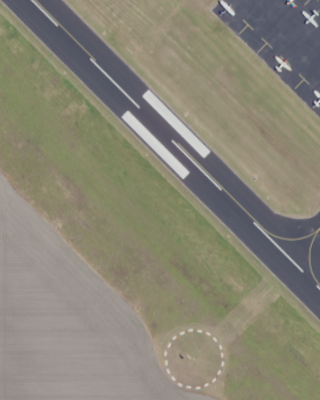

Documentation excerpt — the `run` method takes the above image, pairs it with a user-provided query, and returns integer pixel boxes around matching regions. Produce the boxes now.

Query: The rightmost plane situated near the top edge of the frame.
[302,10,320,27]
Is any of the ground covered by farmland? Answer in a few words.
Yes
